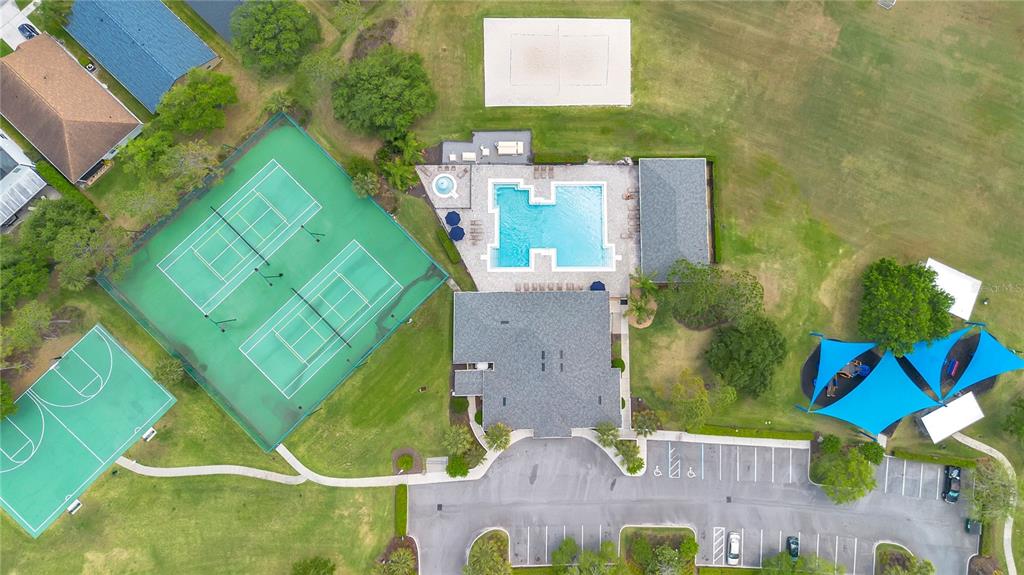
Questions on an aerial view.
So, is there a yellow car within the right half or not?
No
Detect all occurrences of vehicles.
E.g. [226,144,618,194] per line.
[726,531,742,563]
[942,465,962,502]
[15,17,43,40]
[784,535,799,563]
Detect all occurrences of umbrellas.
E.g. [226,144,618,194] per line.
[445,211,461,226]
[590,279,605,292]
[449,226,464,241]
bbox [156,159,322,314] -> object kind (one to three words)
tennis court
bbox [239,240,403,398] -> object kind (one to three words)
tennis court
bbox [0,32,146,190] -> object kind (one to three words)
house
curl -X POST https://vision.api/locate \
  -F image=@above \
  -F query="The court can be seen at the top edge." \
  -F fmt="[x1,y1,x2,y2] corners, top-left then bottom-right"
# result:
[484,18,632,106]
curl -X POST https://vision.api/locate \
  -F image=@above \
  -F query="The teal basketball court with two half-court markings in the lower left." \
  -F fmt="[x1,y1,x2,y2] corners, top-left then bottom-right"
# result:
[0,324,176,539]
